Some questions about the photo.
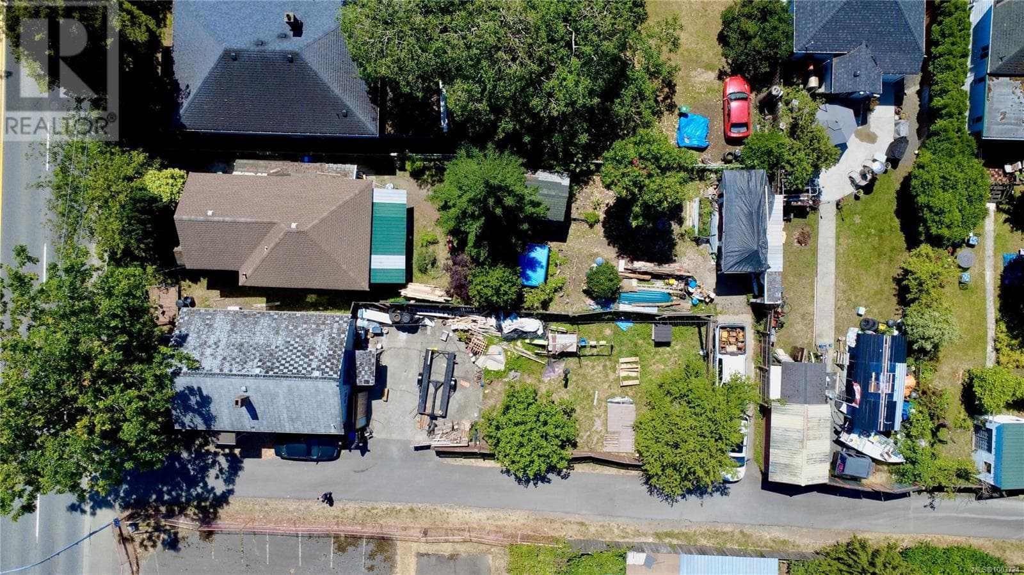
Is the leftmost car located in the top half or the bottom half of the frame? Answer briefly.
bottom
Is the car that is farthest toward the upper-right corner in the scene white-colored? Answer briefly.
No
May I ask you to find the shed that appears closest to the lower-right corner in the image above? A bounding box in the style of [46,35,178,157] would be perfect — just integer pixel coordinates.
[973,416,1024,490]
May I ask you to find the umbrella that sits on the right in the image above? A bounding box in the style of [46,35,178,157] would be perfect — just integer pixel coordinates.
[817,104,857,147]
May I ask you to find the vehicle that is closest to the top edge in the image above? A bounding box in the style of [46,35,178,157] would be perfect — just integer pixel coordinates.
[720,77,753,142]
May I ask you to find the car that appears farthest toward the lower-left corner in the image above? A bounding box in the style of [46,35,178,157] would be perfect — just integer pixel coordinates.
[275,434,343,463]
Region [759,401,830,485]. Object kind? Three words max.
shed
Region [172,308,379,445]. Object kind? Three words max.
house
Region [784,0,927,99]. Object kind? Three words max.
house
